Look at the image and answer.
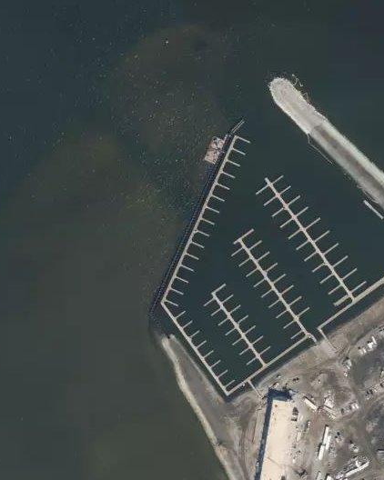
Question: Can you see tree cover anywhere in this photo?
No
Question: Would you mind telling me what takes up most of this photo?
water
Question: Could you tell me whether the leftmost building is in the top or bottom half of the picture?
bottom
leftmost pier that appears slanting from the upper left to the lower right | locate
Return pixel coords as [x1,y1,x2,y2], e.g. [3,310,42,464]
[161,303,235,396]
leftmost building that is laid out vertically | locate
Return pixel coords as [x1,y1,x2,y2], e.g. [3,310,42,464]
[260,400,291,480]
